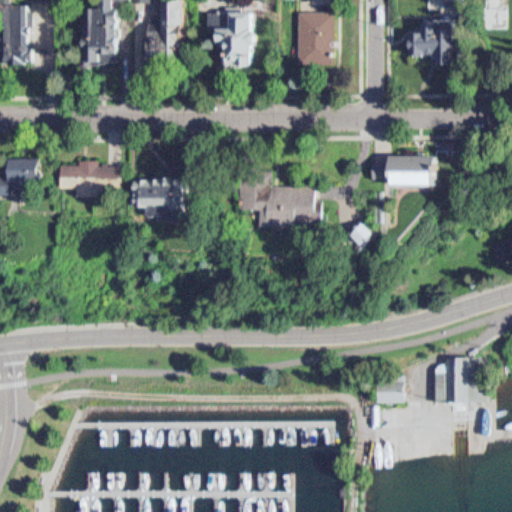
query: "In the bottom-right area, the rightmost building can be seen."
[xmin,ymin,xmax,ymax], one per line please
[454,357,468,410]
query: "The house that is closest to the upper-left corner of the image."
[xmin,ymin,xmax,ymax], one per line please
[2,3,32,65]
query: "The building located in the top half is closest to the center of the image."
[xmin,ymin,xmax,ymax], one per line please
[240,172,324,227]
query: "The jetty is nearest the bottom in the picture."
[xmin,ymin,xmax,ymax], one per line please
[54,471,296,512]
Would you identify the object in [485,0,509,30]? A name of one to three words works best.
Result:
sports court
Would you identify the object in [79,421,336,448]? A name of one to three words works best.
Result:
pier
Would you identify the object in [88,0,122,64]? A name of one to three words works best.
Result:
house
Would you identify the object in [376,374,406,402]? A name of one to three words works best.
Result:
shed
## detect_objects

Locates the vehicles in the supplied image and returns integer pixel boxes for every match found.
[122,61,129,76]
[377,5,384,26]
